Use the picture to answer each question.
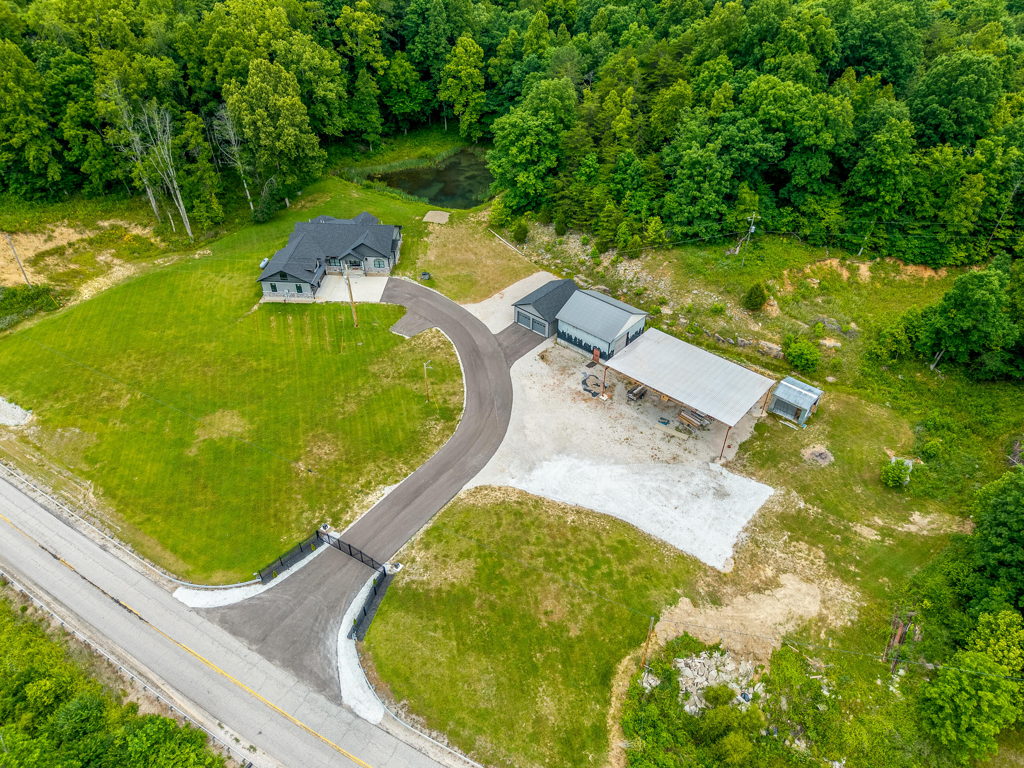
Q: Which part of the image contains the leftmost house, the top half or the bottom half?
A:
top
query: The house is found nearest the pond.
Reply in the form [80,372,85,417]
[256,211,407,301]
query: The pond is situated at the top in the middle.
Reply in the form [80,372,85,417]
[369,149,502,206]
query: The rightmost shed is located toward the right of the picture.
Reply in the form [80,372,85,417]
[769,377,826,426]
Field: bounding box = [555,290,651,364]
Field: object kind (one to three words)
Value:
barn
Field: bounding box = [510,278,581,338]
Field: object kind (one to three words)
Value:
building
